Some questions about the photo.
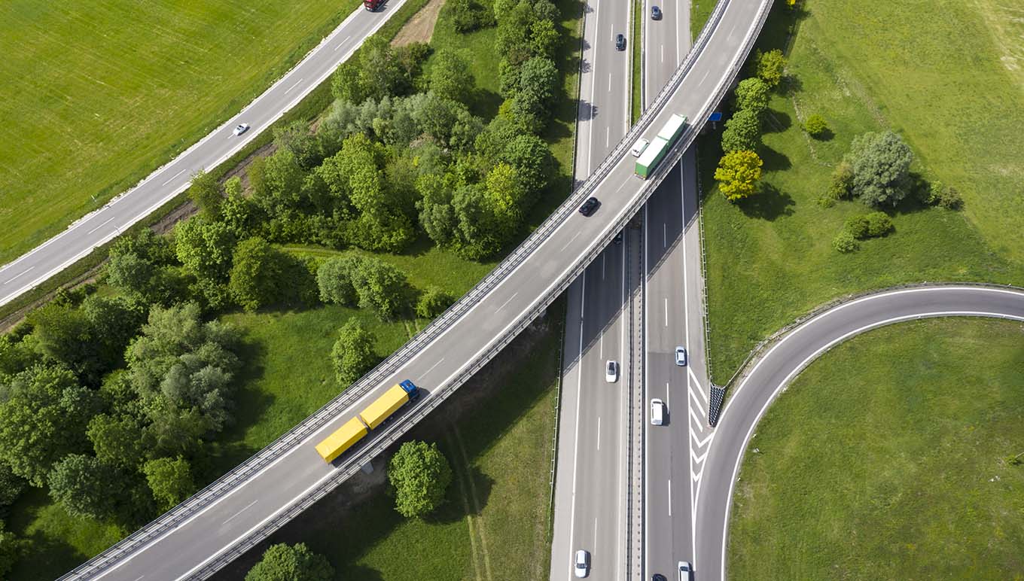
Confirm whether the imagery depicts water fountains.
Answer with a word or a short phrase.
No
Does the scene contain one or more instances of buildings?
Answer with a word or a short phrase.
No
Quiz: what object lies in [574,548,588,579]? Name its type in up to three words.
car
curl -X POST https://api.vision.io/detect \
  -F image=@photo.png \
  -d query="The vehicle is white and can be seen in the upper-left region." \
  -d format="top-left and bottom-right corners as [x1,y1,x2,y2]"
[231,123,249,137]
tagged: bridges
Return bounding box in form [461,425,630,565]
[61,0,775,581]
